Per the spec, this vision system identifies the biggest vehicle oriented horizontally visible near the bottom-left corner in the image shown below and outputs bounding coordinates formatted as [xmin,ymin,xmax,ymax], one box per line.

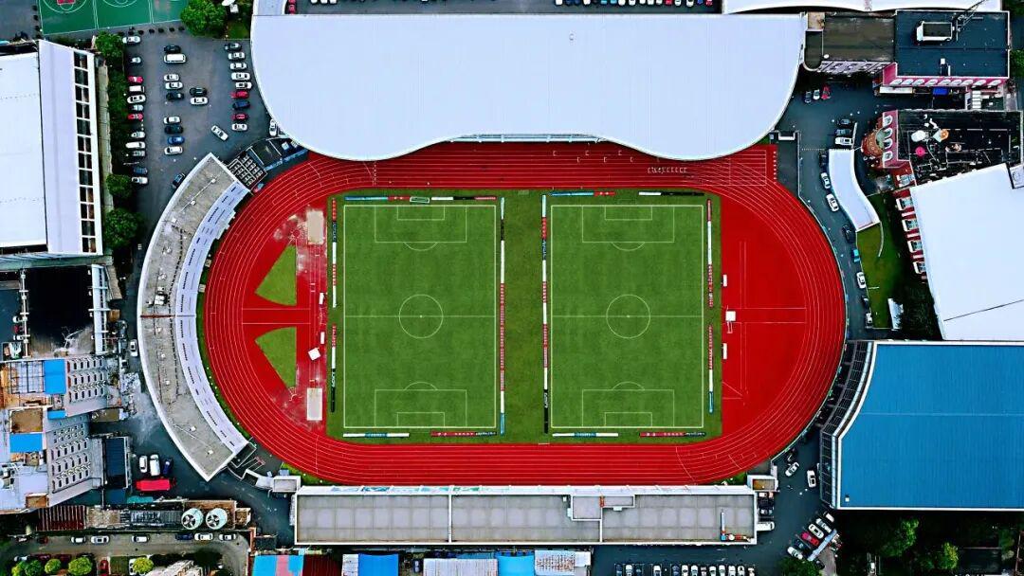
[136,477,176,489]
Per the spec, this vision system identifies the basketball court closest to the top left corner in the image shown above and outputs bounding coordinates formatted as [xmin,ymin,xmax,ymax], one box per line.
[40,0,187,34]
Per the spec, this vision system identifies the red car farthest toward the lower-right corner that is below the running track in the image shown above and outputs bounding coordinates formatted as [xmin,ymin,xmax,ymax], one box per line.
[801,530,819,546]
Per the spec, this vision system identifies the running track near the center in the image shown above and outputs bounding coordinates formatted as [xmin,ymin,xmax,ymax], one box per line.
[205,142,845,485]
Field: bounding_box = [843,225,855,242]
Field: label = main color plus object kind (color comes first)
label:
black vehicle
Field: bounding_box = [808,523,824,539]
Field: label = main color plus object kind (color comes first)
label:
white car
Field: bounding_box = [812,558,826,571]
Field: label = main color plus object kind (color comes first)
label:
black vehicle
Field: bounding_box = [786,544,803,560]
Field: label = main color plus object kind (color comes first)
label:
white car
